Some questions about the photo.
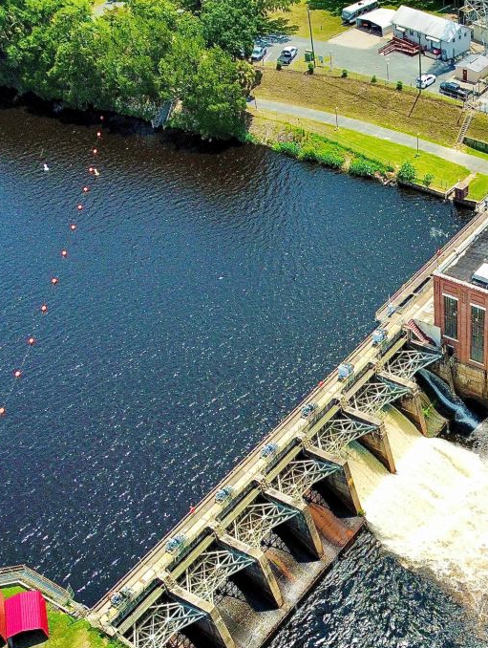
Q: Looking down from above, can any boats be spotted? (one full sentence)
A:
No, I can't see a single boat in this photo.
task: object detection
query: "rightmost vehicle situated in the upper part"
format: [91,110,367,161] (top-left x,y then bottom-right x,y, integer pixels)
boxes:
[442,82,467,96]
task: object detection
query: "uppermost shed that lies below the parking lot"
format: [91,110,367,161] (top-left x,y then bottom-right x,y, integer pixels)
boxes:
[448,183,474,211]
